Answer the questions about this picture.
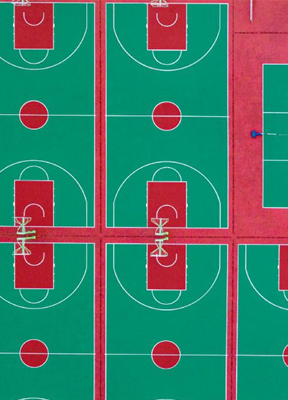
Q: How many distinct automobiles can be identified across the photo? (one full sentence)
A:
No automobiles are visible.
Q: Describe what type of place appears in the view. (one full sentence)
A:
The area seen from above is a sports ground.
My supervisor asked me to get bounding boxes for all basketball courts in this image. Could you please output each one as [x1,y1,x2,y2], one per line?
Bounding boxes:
[105,2,229,229]
[105,242,228,400]
[0,242,95,400]
[0,1,95,227]
[235,244,288,400]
